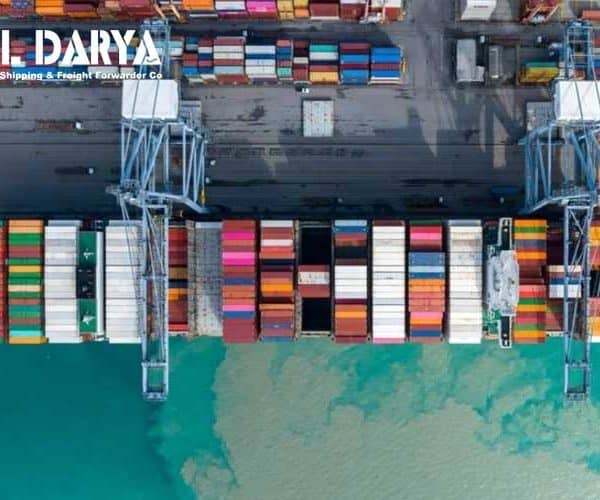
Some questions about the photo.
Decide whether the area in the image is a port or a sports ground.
port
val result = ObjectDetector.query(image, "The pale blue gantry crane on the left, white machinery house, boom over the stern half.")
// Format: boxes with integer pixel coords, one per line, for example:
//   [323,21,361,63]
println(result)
[107,12,215,403]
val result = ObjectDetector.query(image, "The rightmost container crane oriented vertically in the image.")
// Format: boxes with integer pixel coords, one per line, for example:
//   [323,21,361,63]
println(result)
[511,12,600,403]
